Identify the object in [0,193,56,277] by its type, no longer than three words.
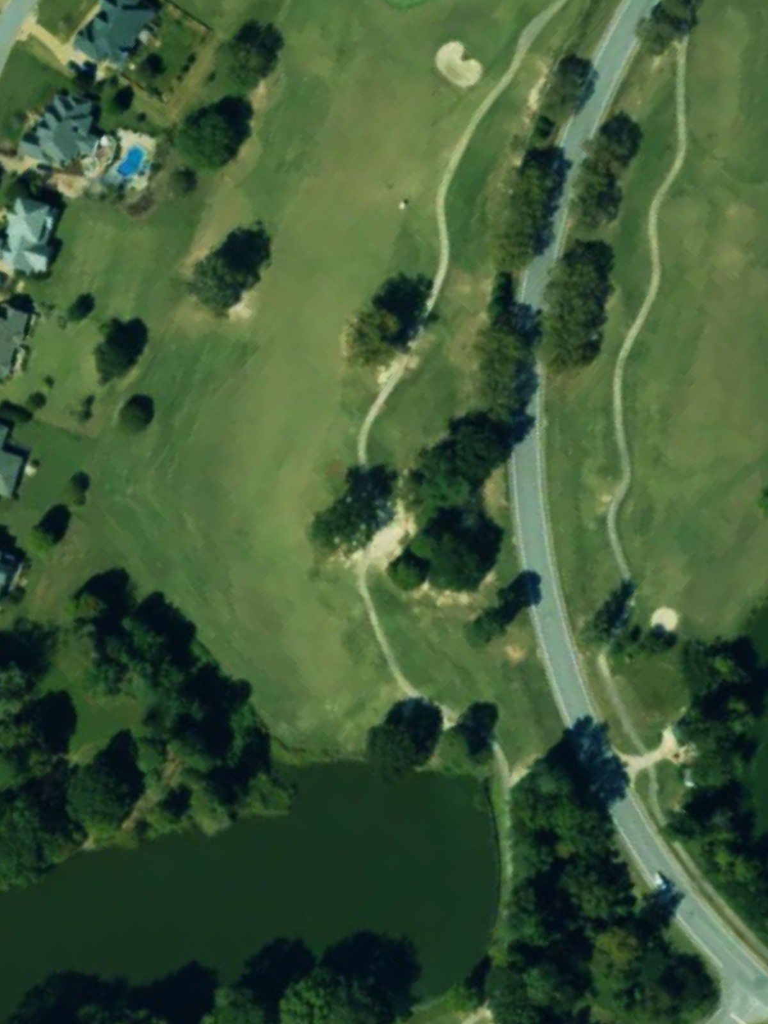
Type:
house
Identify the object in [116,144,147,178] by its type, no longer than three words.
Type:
swimming pool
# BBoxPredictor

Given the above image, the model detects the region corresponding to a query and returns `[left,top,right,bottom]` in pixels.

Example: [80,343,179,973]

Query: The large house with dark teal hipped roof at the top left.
[75,0,160,67]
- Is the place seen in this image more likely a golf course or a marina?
golf course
